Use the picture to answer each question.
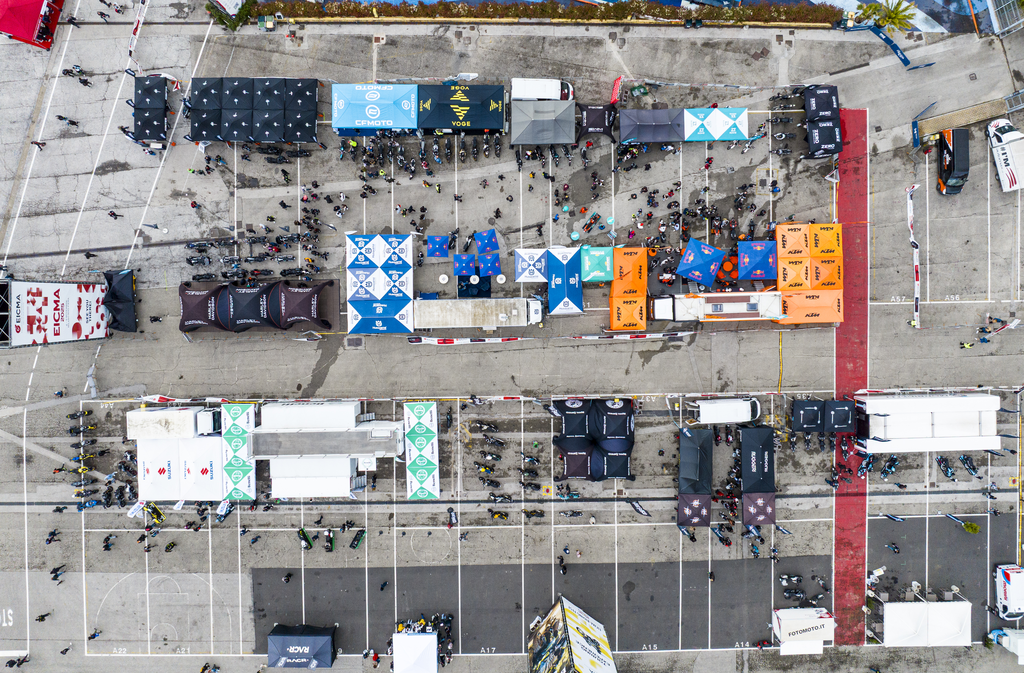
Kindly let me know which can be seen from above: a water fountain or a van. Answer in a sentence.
Visible in the photo is a van.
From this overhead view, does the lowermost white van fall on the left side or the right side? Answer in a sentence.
It is on the right.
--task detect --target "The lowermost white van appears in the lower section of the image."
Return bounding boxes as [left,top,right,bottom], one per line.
[988,628,1024,662]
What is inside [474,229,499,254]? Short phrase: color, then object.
blue umbrella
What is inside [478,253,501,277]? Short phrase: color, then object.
blue umbrella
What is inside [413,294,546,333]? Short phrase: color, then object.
white truck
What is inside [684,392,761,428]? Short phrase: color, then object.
white van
